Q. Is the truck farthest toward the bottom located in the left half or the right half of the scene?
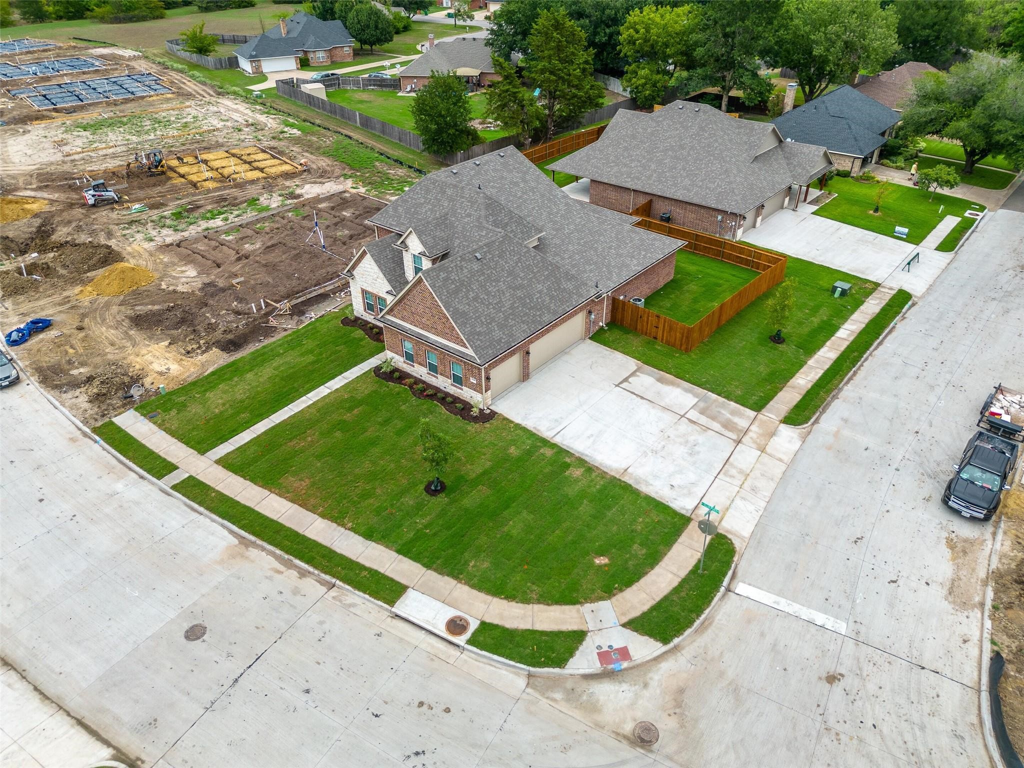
right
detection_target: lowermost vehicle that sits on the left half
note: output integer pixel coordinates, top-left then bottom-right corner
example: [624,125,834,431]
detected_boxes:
[0,344,22,388]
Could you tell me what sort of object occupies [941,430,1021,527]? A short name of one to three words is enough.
truck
